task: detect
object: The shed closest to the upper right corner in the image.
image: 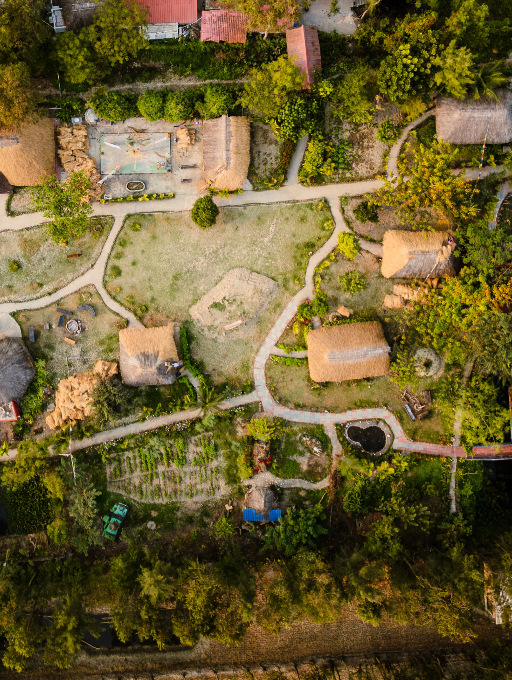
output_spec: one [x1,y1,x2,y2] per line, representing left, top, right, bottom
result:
[434,89,512,145]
